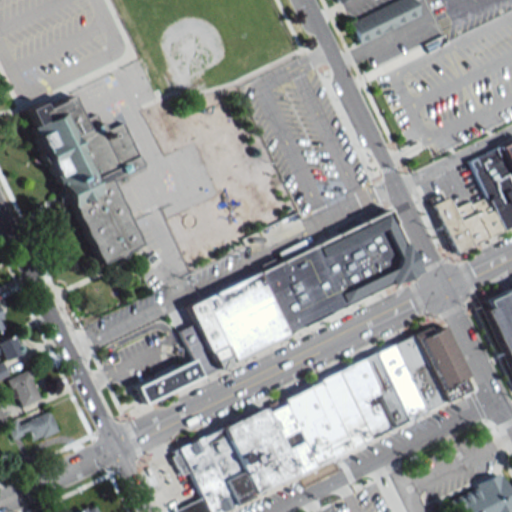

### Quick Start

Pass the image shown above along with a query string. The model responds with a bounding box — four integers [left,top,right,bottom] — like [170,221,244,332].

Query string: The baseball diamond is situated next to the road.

[114,0,297,98]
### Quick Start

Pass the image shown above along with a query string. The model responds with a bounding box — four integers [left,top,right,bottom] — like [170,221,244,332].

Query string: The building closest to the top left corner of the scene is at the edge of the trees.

[36,98,146,264]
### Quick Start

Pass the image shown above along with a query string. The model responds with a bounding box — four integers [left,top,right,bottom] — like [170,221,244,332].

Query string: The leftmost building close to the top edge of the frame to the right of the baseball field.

[358,0,422,44]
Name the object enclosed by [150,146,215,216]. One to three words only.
sports court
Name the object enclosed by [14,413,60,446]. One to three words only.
house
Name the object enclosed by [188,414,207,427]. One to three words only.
vehicle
